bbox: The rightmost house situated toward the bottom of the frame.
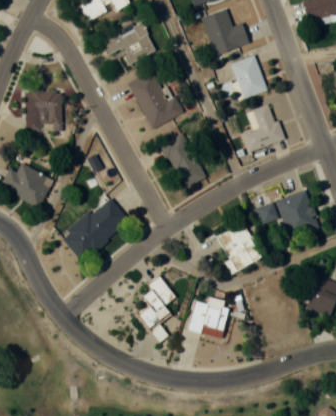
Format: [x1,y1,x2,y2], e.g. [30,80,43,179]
[307,278,336,316]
